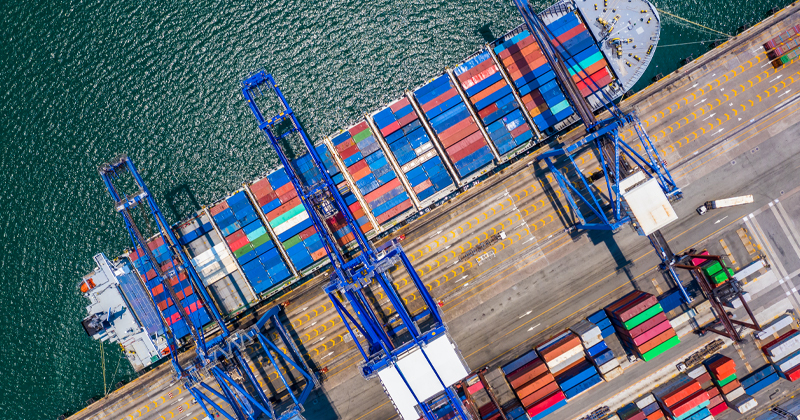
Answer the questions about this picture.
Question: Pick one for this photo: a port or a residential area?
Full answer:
This image shows a port.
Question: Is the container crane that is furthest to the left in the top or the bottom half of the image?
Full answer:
You can find the container crane that is furthest to the left in the bottom half.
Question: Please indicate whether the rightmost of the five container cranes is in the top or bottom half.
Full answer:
Seen from above, the rightmost of the five container cranes lies in the bottom half of the view.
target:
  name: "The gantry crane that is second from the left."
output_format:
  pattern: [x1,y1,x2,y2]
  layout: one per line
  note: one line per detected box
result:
[234,66,475,420]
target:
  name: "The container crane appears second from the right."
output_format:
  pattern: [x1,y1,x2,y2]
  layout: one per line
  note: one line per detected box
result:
[516,0,694,306]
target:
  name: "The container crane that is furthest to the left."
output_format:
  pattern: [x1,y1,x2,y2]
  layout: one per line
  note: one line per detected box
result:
[86,151,329,420]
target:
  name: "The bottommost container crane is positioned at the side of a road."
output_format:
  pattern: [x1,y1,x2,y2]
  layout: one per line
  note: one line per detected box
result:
[458,370,508,420]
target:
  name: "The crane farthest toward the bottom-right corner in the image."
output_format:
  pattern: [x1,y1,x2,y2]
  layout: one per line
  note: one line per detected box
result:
[671,249,767,345]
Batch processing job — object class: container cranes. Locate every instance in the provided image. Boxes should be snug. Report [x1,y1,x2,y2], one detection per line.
[234,66,475,420]
[458,370,508,420]
[516,0,694,306]
[671,249,767,345]
[86,151,329,420]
